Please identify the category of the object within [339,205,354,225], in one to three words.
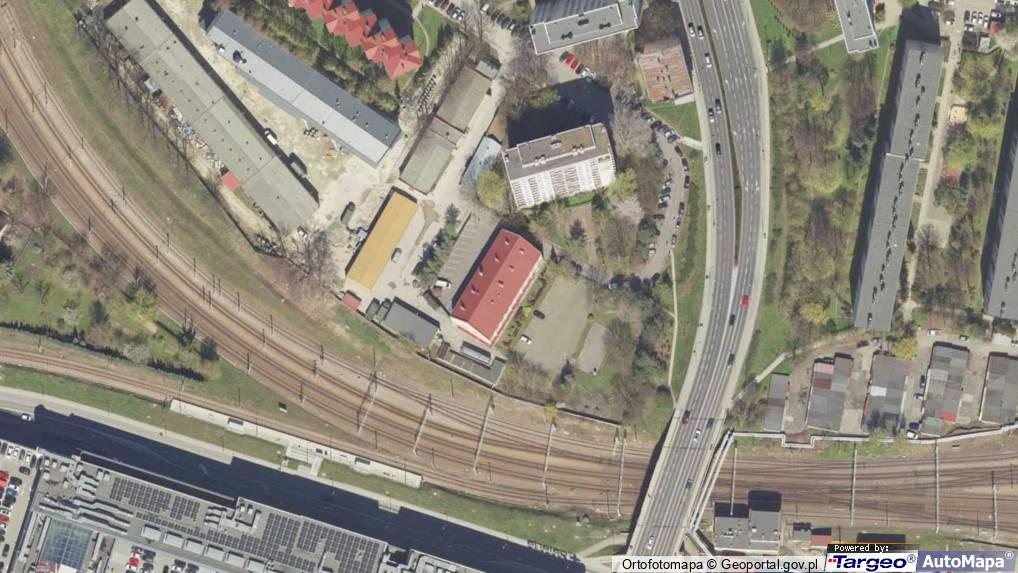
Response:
vehicle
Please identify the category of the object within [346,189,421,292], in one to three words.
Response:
building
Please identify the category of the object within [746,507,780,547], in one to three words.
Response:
building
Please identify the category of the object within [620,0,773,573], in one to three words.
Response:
overpass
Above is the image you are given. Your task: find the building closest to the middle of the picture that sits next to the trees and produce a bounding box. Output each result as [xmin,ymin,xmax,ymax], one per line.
[451,229,544,350]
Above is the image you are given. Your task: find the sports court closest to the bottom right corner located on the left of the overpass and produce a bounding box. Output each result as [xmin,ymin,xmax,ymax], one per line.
[578,321,607,372]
